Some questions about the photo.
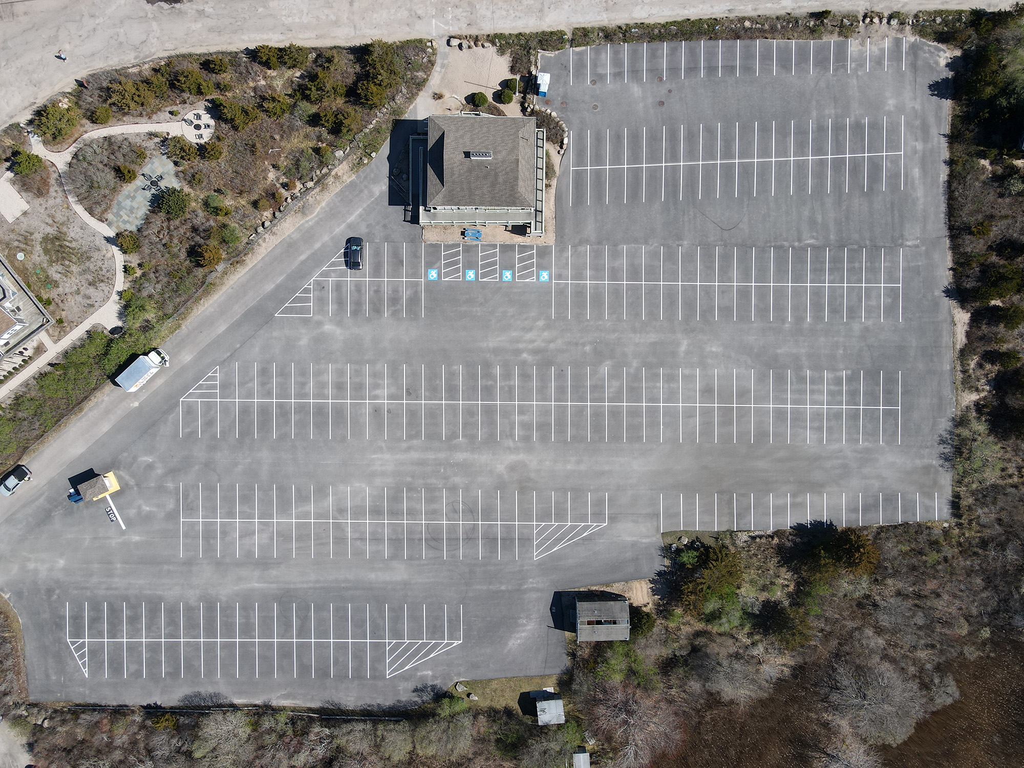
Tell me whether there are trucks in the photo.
Yes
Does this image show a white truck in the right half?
No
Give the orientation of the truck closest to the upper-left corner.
diagonally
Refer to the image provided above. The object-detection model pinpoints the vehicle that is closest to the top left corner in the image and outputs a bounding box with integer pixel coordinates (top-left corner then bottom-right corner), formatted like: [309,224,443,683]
[115,348,172,392]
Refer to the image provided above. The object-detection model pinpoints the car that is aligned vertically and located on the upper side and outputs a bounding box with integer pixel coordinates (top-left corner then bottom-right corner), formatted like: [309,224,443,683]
[348,238,364,270]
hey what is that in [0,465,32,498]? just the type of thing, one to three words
truck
